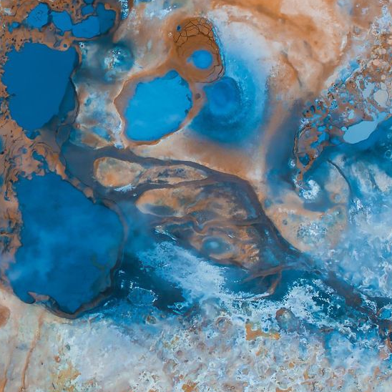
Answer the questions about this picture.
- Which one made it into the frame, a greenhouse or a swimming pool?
swimming pool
